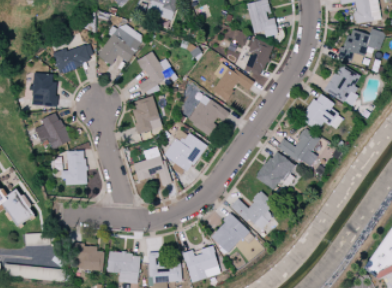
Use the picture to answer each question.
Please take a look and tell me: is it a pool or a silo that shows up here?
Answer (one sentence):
The image shows a pool.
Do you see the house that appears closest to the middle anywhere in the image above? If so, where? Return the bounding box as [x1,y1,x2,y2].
[169,130,206,169]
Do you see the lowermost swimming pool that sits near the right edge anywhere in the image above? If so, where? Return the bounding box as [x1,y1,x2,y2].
[360,72,384,105]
